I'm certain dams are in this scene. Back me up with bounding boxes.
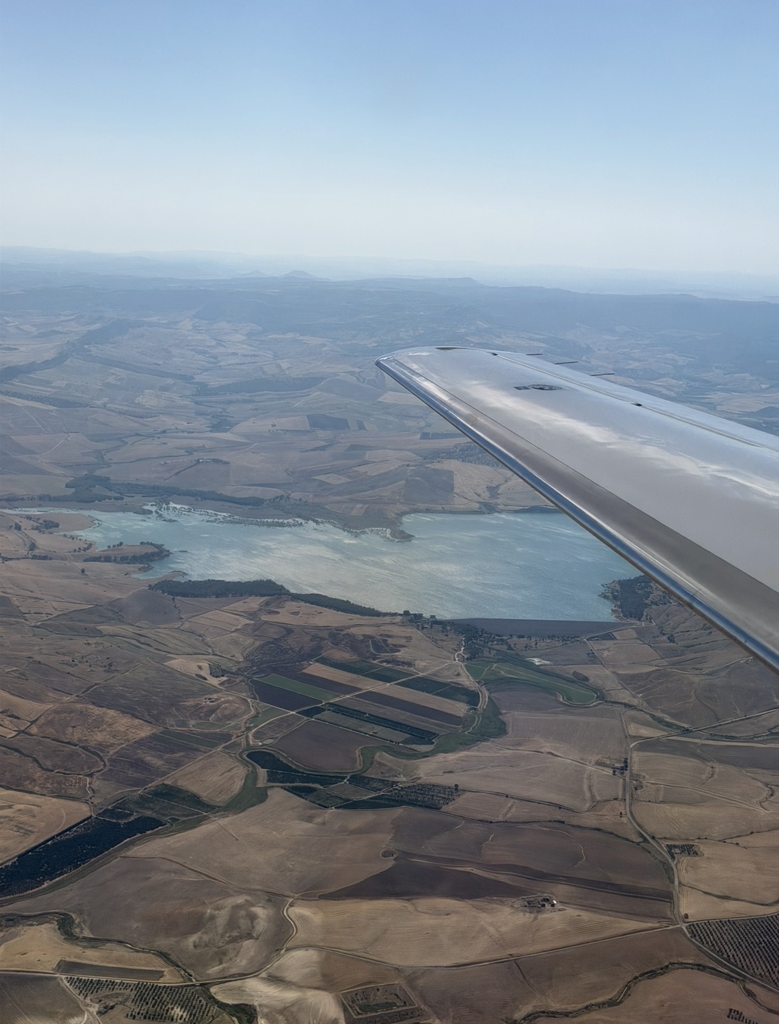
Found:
[434,618,629,636]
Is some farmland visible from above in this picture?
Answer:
Yes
